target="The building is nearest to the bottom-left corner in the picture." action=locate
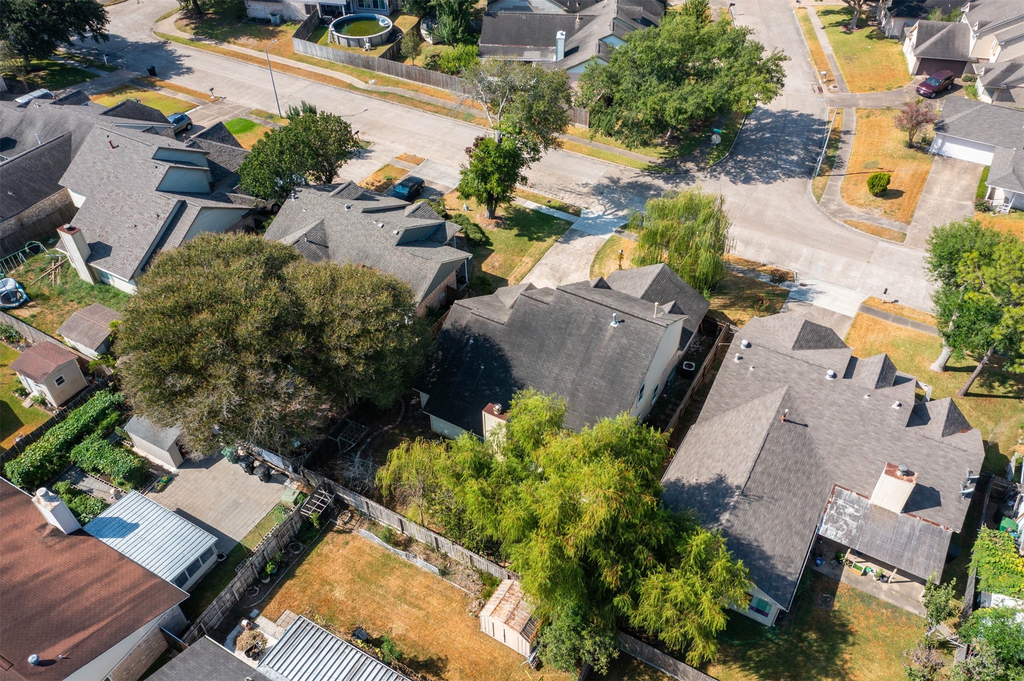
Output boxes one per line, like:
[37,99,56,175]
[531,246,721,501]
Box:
[0,473,230,681]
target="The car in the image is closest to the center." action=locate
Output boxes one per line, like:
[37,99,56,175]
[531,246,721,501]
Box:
[384,173,432,201]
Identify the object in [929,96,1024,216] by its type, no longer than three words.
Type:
house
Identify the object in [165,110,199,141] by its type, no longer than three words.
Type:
car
